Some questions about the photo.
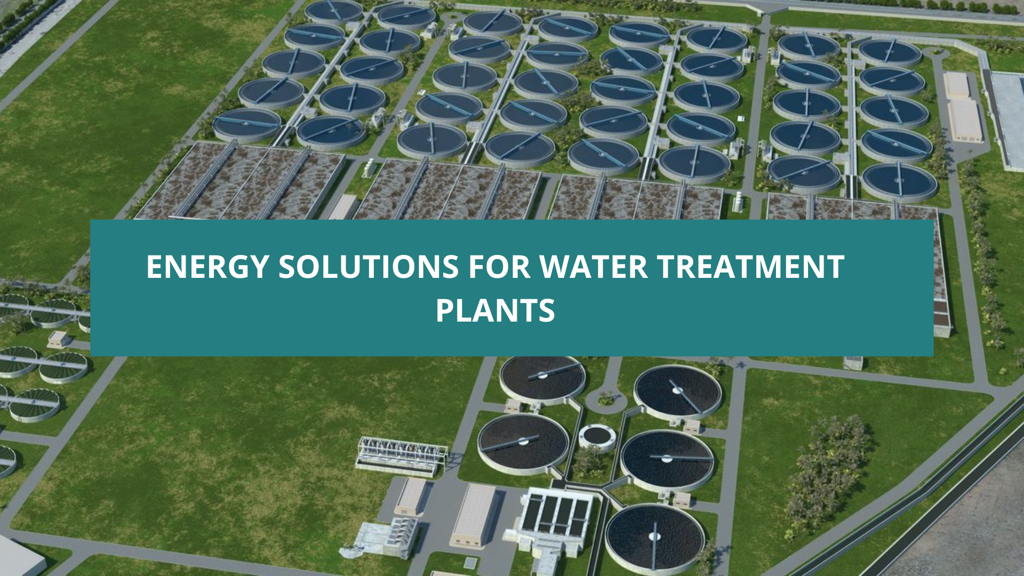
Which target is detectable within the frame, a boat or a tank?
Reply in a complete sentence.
Of the two, only a tank appears.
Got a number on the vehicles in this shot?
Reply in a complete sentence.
I count no vehicles.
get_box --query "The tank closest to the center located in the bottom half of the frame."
[500,350,586,406]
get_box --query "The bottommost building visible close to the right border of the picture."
[947,99,983,145]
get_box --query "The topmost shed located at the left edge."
[46,329,70,349]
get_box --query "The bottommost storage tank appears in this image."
[605,501,706,576]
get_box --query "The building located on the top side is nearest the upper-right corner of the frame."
[942,71,970,102]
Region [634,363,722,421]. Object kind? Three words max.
storage tank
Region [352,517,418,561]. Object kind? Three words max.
house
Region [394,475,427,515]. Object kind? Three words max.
building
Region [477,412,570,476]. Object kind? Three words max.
storage tank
